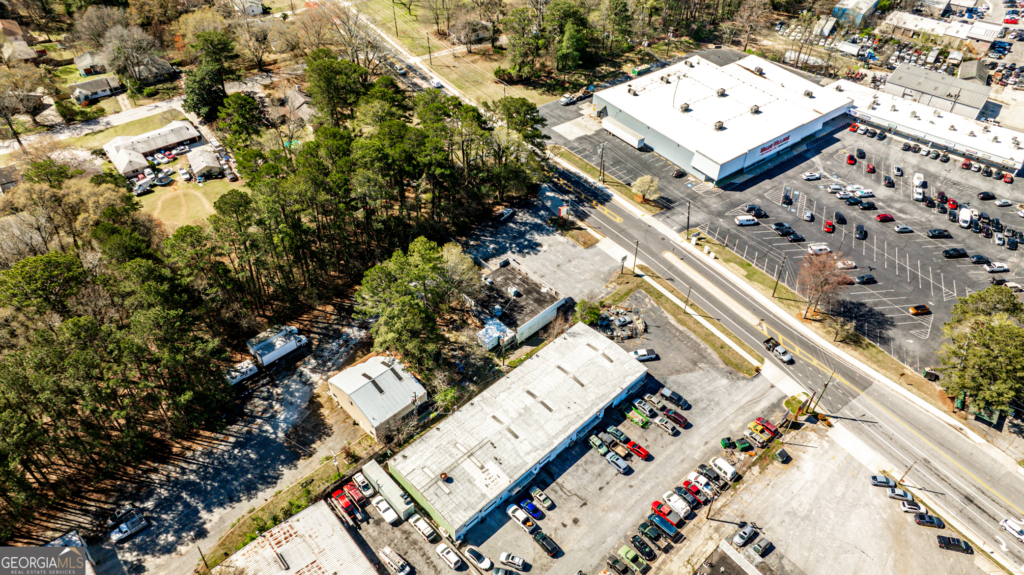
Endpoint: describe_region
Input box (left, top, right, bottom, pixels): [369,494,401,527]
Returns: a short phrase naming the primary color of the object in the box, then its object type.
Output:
white truck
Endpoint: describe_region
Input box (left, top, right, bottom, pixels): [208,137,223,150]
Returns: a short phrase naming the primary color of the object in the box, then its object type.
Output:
white vehicle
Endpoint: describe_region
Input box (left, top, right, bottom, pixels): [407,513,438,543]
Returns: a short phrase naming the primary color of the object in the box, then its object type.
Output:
white car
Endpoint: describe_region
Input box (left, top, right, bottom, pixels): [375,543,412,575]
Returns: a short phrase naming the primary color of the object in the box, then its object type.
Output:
white van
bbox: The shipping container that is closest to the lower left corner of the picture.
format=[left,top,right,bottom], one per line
[361,456,416,522]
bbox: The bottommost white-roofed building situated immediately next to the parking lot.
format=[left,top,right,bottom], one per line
[388,322,651,543]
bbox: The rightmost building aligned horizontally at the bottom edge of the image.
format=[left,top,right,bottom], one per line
[694,536,777,575]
